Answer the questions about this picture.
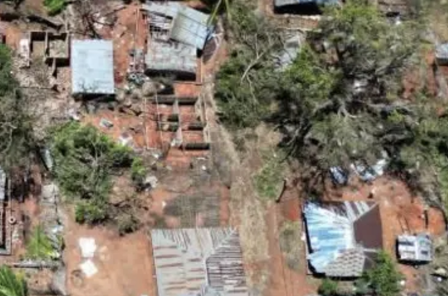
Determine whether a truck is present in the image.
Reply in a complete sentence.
No, no truck is visible in the view.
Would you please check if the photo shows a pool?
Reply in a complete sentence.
No, the scene contains no pool.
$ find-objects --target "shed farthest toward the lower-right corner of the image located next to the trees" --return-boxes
[388,236,432,264]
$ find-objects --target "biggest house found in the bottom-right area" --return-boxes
[299,200,382,278]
